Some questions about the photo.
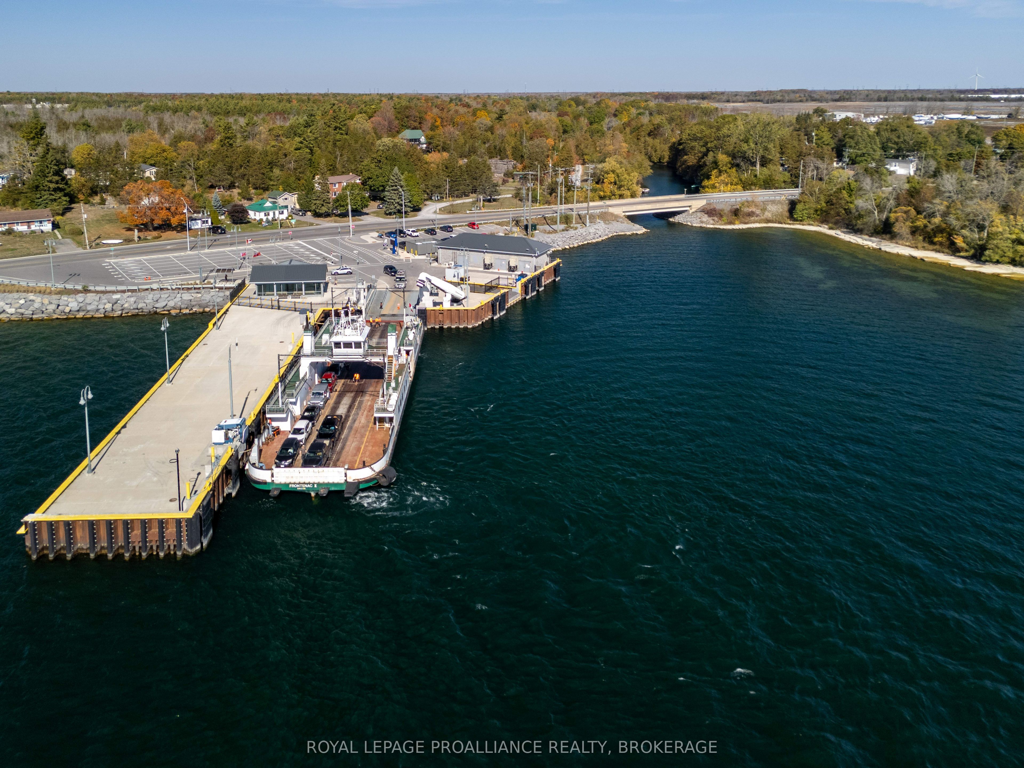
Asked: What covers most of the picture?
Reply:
water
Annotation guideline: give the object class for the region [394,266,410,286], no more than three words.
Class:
vehicle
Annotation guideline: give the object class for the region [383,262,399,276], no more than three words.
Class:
car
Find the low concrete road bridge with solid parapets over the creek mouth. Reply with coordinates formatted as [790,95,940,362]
[574,195,708,217]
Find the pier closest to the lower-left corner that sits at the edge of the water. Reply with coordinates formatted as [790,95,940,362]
[11,279,381,559]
